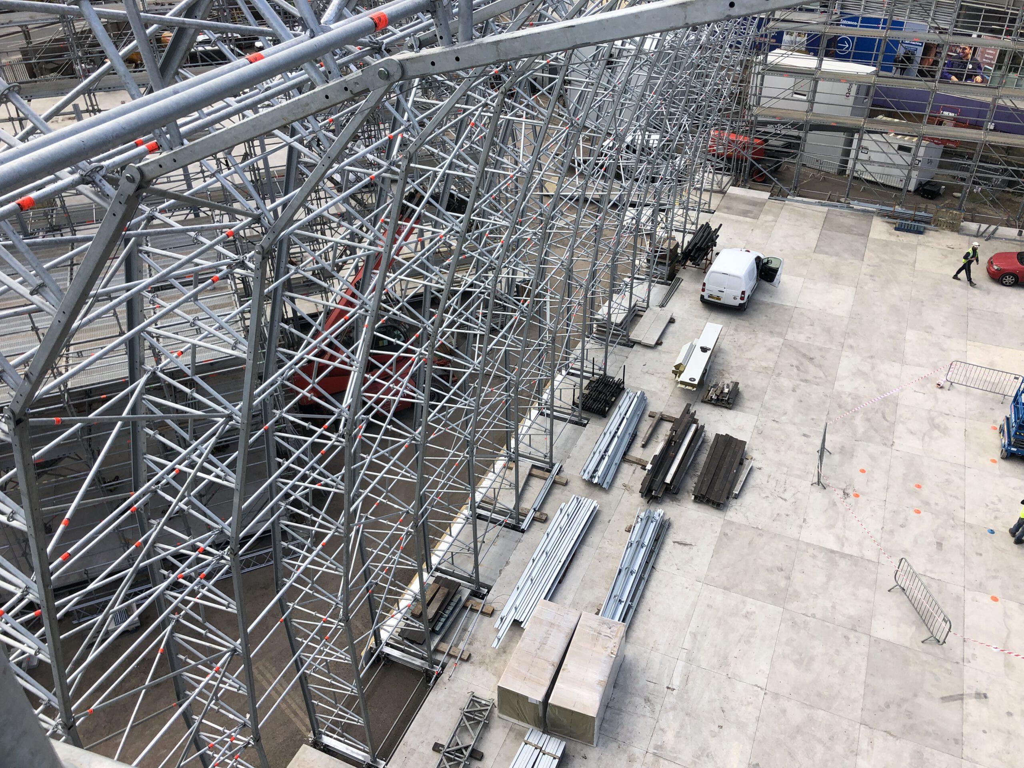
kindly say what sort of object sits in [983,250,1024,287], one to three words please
car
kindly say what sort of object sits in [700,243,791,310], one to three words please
van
